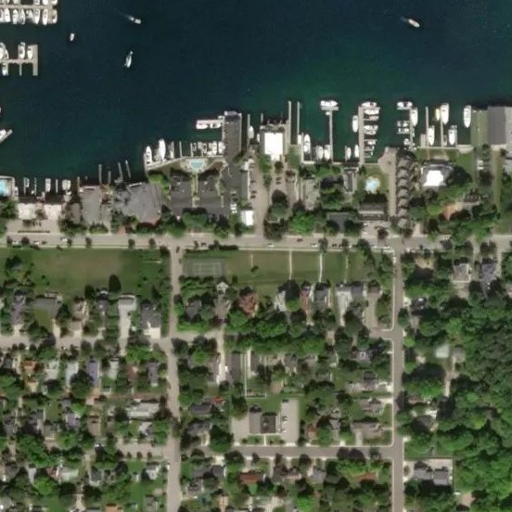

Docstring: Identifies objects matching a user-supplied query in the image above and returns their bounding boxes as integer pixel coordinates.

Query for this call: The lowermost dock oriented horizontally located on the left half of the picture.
[143,141,217,170]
